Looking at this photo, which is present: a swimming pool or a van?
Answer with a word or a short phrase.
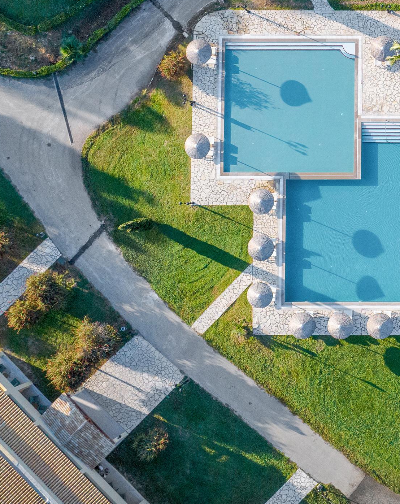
swimming pool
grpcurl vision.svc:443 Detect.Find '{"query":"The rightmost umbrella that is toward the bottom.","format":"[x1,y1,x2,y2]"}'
[368,312,392,337]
